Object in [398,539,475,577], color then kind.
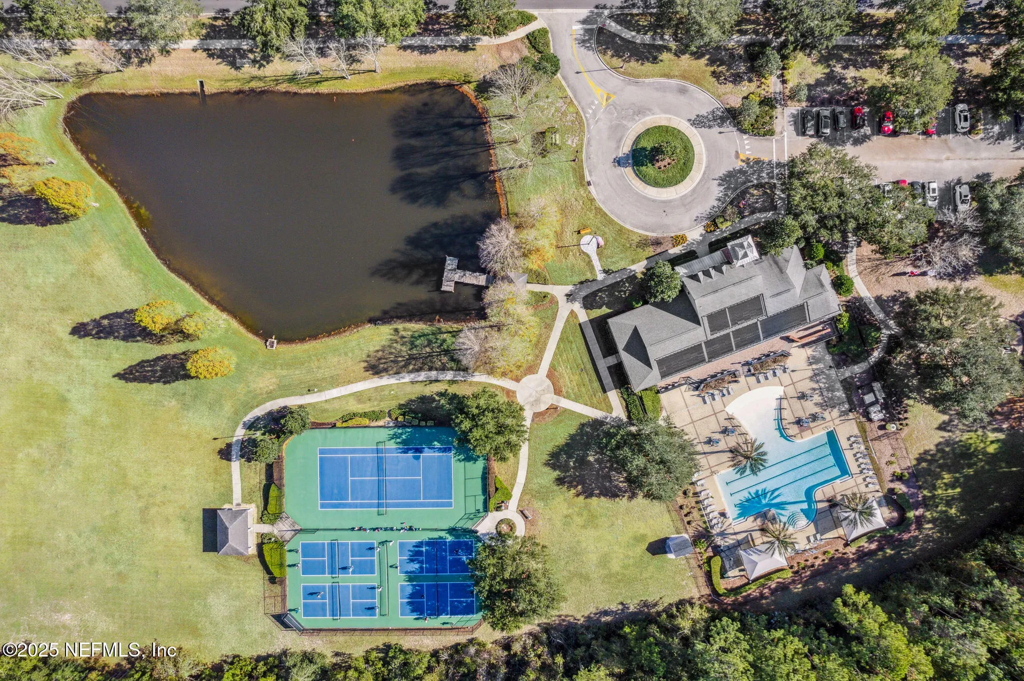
blue sports court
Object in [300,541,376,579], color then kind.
blue sports court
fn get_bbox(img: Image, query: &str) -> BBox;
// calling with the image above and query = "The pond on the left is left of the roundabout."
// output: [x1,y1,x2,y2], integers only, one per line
[65,83,505,343]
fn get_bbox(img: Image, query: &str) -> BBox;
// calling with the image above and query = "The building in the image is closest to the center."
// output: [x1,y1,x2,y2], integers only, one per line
[506,270,527,291]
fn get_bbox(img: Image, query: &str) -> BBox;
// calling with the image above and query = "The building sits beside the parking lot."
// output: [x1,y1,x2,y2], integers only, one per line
[607,235,843,391]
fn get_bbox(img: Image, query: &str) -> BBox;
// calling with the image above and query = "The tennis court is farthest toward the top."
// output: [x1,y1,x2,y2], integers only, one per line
[284,428,488,530]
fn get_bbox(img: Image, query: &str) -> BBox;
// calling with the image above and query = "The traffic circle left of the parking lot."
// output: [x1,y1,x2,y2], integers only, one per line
[589,83,736,230]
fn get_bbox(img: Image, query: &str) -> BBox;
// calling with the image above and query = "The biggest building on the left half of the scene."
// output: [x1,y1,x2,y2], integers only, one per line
[218,507,253,556]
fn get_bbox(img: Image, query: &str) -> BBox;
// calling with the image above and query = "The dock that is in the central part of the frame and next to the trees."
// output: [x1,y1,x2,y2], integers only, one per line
[441,256,506,292]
